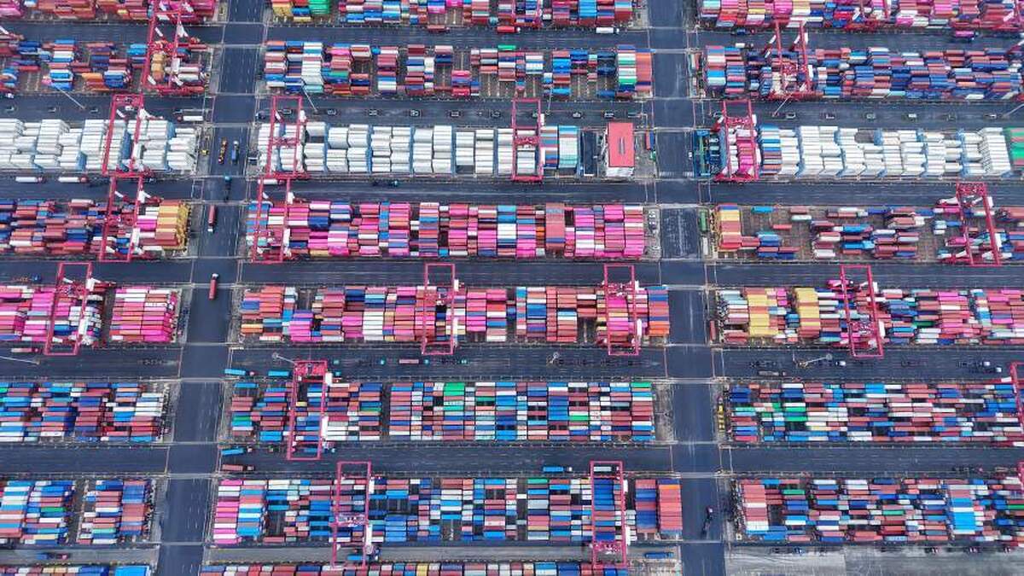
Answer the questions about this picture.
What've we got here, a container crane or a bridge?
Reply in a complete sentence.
This aerial view contains a container crane.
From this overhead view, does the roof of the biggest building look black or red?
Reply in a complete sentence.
From above, the roof of the biggest building appears red.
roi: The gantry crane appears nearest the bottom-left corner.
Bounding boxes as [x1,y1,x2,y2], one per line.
[42,262,109,354]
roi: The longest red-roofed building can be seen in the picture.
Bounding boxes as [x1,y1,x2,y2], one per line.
[607,122,634,174]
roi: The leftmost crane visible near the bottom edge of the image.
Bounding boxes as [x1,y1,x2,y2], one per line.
[331,462,382,567]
